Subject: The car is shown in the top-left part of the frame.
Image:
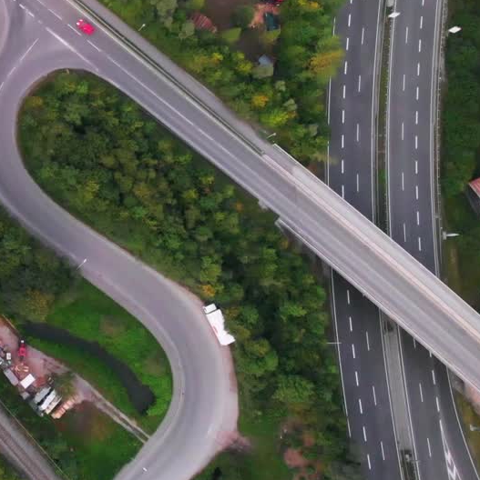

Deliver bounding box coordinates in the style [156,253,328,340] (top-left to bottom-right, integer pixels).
[77,18,96,35]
